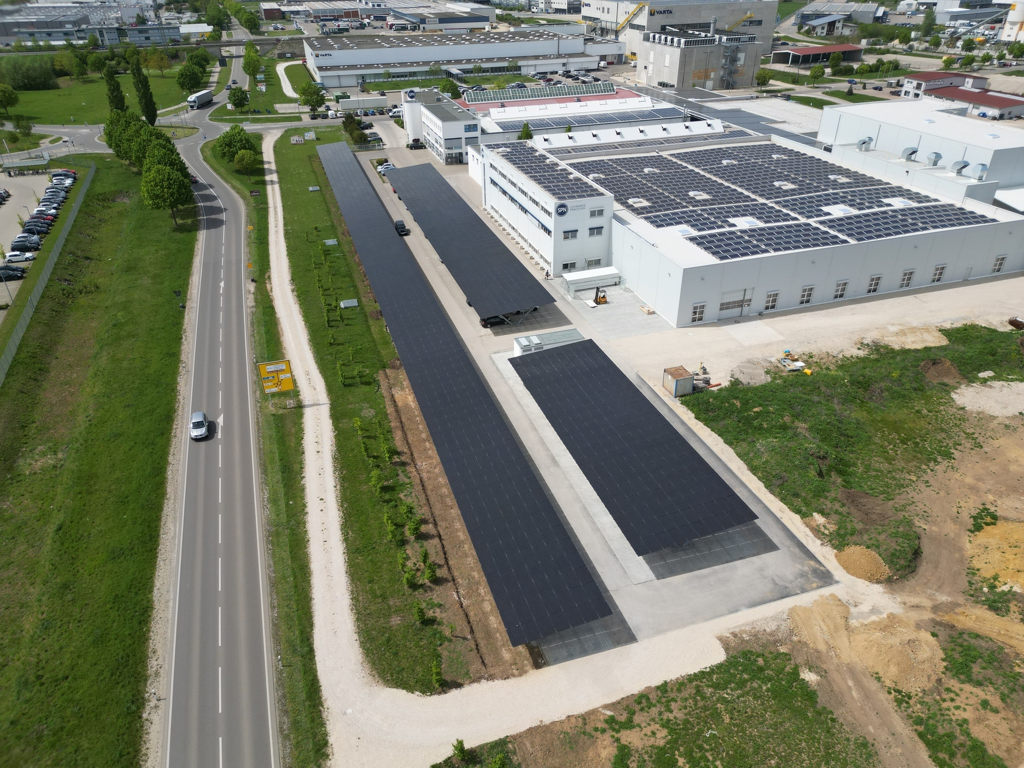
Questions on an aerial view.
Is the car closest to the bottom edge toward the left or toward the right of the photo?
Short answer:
left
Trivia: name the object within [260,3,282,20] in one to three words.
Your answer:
building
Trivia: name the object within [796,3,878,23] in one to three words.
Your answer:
building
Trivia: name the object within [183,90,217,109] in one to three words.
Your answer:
vehicle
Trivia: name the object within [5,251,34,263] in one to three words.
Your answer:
vehicle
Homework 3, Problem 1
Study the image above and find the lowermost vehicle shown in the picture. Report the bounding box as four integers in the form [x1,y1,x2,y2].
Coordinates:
[188,410,211,439]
